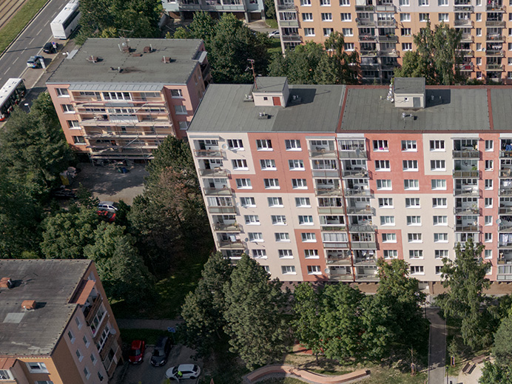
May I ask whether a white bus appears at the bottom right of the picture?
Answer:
No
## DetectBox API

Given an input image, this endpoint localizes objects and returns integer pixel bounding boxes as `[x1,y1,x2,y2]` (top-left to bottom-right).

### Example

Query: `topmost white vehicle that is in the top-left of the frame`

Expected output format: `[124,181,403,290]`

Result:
[54,5,82,35]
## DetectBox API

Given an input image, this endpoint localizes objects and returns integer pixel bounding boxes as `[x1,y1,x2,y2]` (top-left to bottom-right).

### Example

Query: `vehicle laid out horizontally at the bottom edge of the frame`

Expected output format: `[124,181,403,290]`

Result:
[161,363,201,382]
